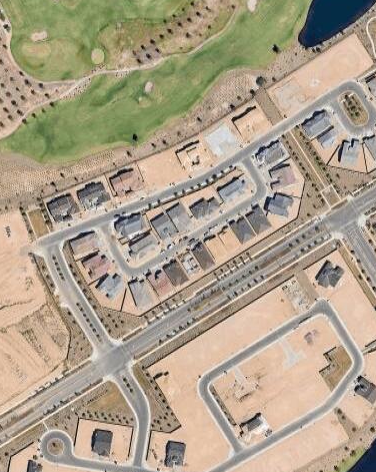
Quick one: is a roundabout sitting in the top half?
No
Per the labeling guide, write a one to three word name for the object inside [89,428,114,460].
house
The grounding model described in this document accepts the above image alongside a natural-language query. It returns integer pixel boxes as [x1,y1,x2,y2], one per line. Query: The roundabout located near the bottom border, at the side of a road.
[38,429,73,464]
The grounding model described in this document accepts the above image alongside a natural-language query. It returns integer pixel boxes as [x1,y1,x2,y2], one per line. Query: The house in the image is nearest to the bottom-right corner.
[354,375,376,404]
